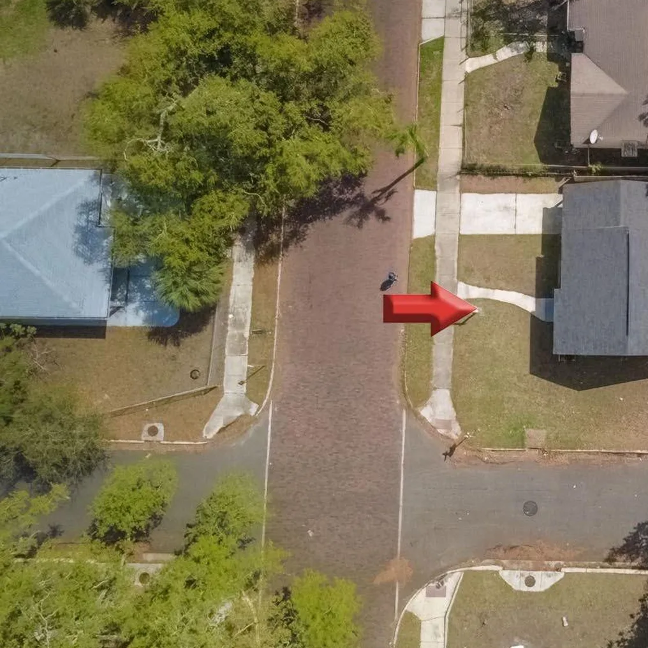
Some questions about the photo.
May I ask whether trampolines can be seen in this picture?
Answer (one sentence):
No, no trampoline is visible in the view.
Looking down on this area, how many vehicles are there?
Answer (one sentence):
I count no vehicles.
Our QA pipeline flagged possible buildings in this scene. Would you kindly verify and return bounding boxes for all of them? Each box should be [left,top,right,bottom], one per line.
[567,0,648,149]
[540,181,648,356]
[0,169,129,322]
